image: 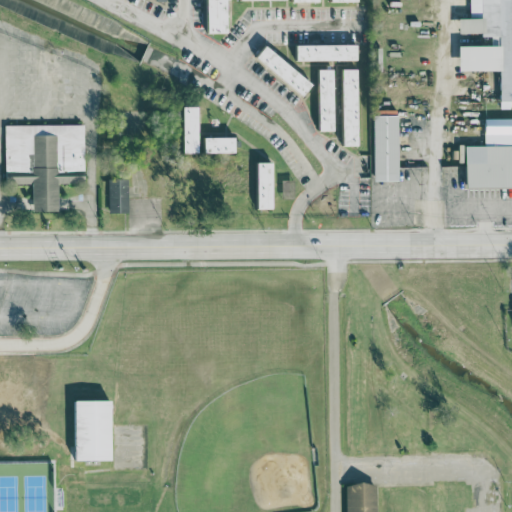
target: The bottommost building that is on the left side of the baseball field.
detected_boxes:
[74,402,112,463]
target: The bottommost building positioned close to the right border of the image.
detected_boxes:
[468,146,512,188]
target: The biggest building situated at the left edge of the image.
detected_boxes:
[5,124,86,212]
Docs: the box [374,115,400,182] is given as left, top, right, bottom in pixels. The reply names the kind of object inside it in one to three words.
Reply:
building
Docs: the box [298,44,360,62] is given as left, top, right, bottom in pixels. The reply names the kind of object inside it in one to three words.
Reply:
building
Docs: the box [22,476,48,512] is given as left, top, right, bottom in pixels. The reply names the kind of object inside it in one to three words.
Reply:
tennis court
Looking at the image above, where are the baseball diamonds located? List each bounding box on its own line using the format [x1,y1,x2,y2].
[176,374,315,512]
